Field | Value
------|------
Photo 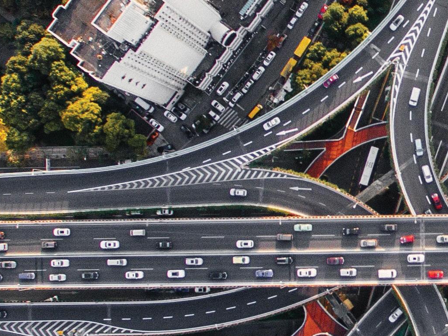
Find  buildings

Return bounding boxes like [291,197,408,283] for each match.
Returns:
[45,0,234,110]
[240,0,270,24]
